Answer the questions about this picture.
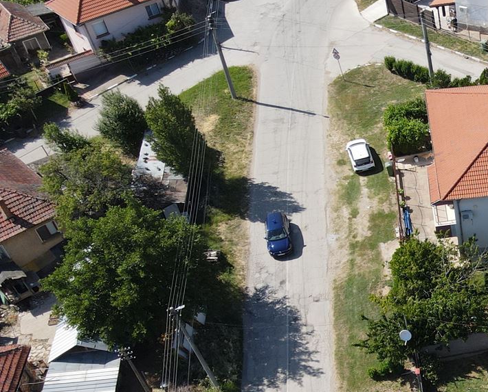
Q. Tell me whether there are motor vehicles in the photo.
Yes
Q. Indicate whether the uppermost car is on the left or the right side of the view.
right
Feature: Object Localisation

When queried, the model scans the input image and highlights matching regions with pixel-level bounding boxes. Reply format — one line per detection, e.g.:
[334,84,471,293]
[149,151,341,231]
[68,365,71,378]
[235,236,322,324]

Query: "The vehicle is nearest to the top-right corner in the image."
[344,135,373,168]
